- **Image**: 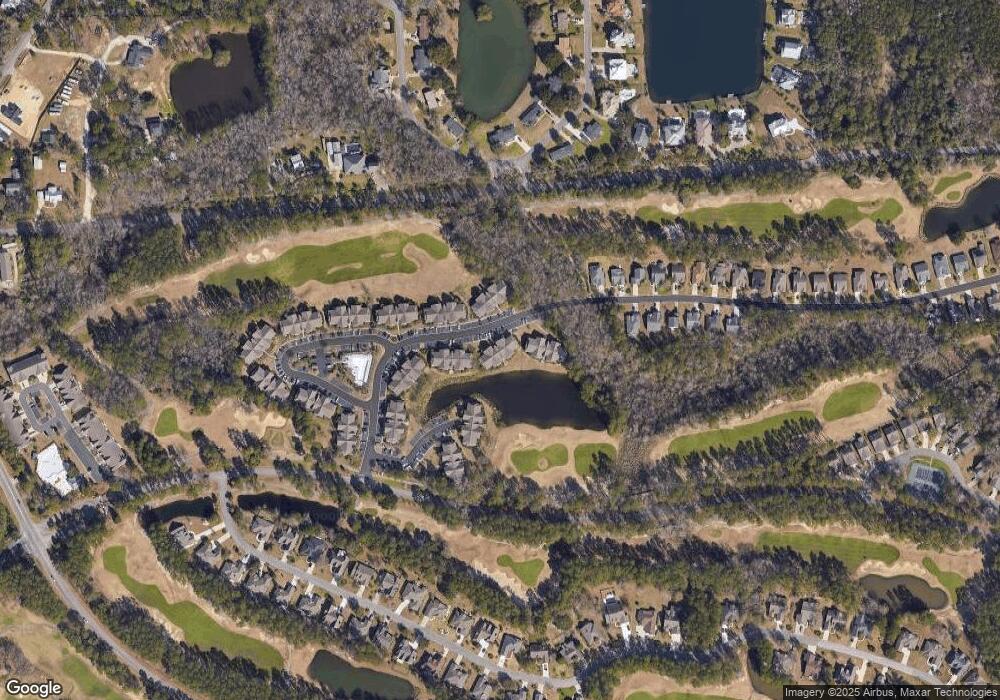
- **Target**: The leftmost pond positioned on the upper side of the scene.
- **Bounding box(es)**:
[169,32,266,133]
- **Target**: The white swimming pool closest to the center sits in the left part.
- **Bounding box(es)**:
[349,353,372,386]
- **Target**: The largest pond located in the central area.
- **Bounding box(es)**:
[427,371,608,430]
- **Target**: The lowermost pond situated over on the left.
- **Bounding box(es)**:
[310,650,416,700]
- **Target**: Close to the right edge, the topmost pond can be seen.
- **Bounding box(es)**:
[924,176,1000,239]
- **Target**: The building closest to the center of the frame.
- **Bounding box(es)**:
[477,335,519,364]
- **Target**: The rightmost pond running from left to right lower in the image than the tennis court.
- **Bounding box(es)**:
[860,575,949,610]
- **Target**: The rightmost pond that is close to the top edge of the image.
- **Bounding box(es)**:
[455,0,532,118]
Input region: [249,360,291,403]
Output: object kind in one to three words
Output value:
building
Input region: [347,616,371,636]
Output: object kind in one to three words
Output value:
house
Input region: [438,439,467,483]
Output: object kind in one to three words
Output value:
building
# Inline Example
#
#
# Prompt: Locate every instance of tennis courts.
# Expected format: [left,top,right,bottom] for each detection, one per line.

[906,461,946,498]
